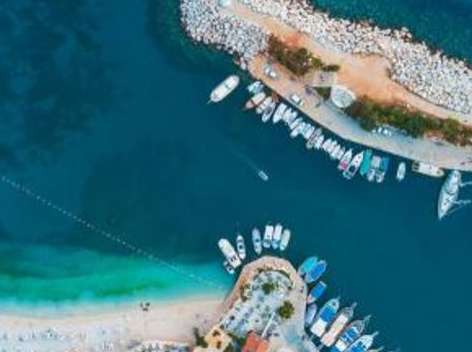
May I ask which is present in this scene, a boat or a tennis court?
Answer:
boat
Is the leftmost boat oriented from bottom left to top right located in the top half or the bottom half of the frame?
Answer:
top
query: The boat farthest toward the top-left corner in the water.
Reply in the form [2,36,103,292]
[206,73,241,101]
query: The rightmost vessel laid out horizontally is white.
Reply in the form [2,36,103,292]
[412,162,446,176]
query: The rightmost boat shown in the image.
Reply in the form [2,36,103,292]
[438,169,470,218]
